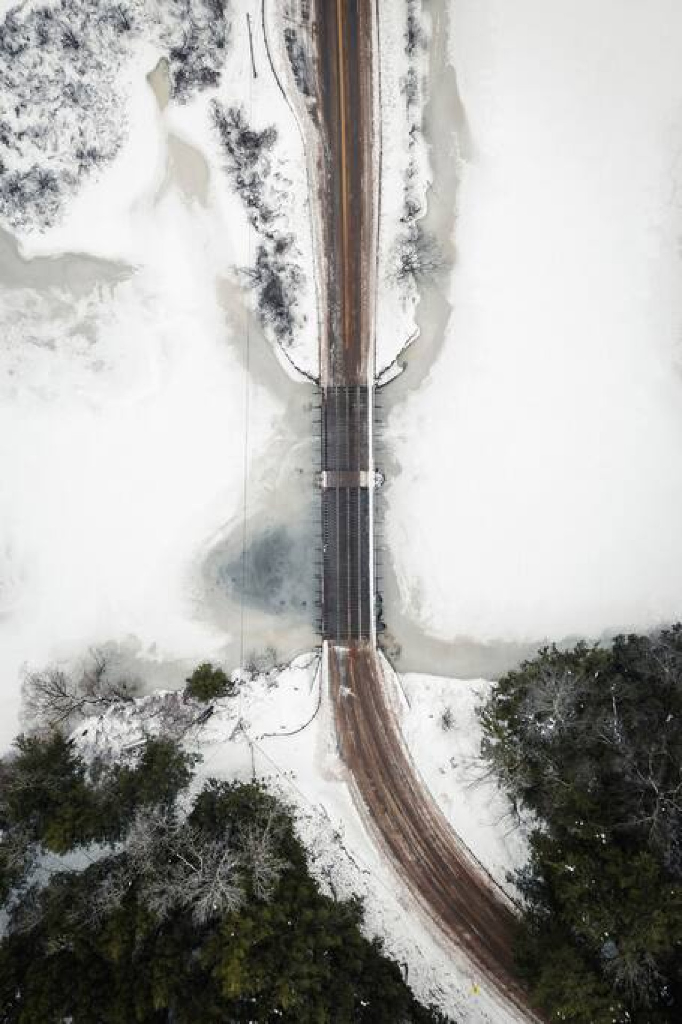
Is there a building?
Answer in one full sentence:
No, there is no building in the image.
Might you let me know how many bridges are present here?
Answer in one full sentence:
The count comes to 1 bridge.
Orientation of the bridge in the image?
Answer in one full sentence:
The bridge is oriented from top to bottom.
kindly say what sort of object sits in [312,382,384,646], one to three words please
bridge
